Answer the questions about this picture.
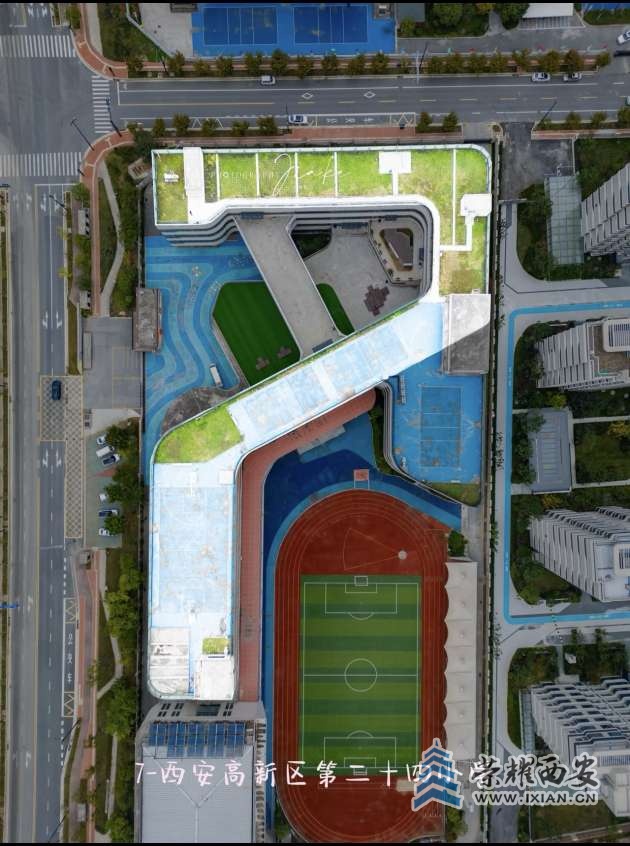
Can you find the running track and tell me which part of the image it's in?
bottom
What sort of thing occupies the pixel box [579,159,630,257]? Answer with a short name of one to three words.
building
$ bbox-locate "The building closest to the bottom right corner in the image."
[533,671,630,815]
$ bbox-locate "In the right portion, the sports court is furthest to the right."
[419,387,462,466]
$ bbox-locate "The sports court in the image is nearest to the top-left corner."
[204,7,277,44]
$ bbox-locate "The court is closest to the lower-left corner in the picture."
[159,488,230,605]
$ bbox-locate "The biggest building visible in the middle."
[147,145,493,702]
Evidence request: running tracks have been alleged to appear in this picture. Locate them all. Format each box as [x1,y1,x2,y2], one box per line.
[274,489,452,846]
